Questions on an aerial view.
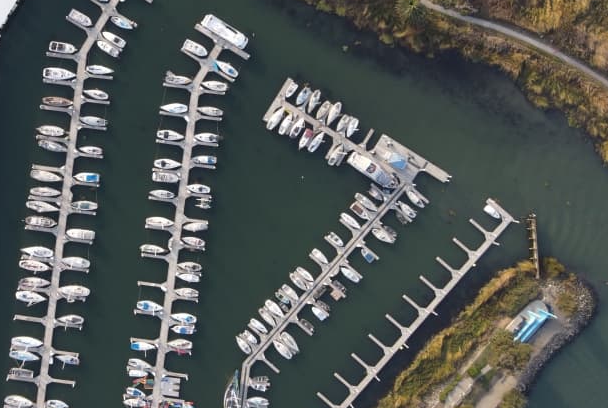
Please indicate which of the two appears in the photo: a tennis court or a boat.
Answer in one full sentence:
This aerial view contains a boat.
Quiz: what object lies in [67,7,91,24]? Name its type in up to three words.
boat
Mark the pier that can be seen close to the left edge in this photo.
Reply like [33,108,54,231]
[3,0,153,408]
